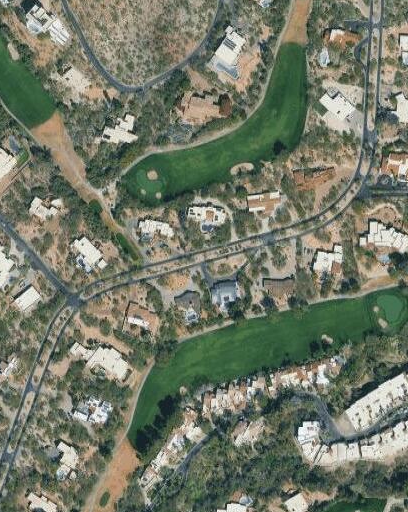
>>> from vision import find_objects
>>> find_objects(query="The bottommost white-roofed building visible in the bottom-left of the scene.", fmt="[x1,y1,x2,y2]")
[26,492,61,512]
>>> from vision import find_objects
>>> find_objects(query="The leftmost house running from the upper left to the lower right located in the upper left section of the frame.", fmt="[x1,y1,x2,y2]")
[26,5,70,43]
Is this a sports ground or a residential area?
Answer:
residential area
